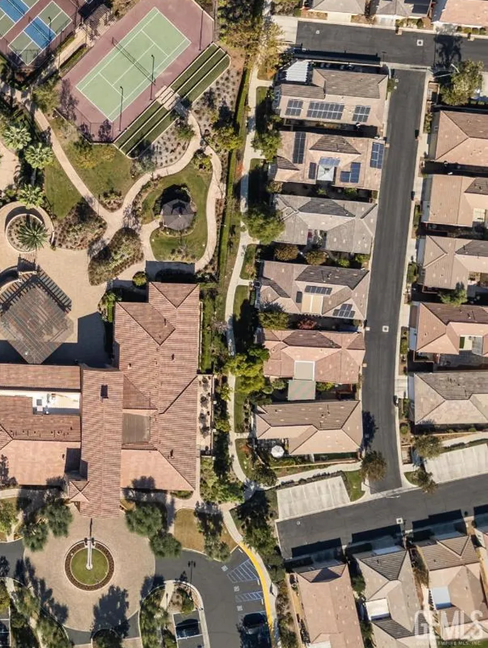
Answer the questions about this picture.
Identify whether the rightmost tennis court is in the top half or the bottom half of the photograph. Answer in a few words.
top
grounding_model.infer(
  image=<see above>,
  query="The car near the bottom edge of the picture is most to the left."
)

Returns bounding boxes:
[178,623,201,640]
